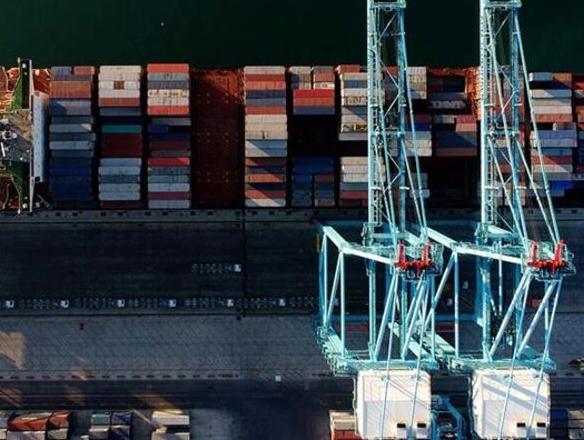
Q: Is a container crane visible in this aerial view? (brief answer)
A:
Yes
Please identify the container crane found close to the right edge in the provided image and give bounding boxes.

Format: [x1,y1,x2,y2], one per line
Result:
[394,0,574,440]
